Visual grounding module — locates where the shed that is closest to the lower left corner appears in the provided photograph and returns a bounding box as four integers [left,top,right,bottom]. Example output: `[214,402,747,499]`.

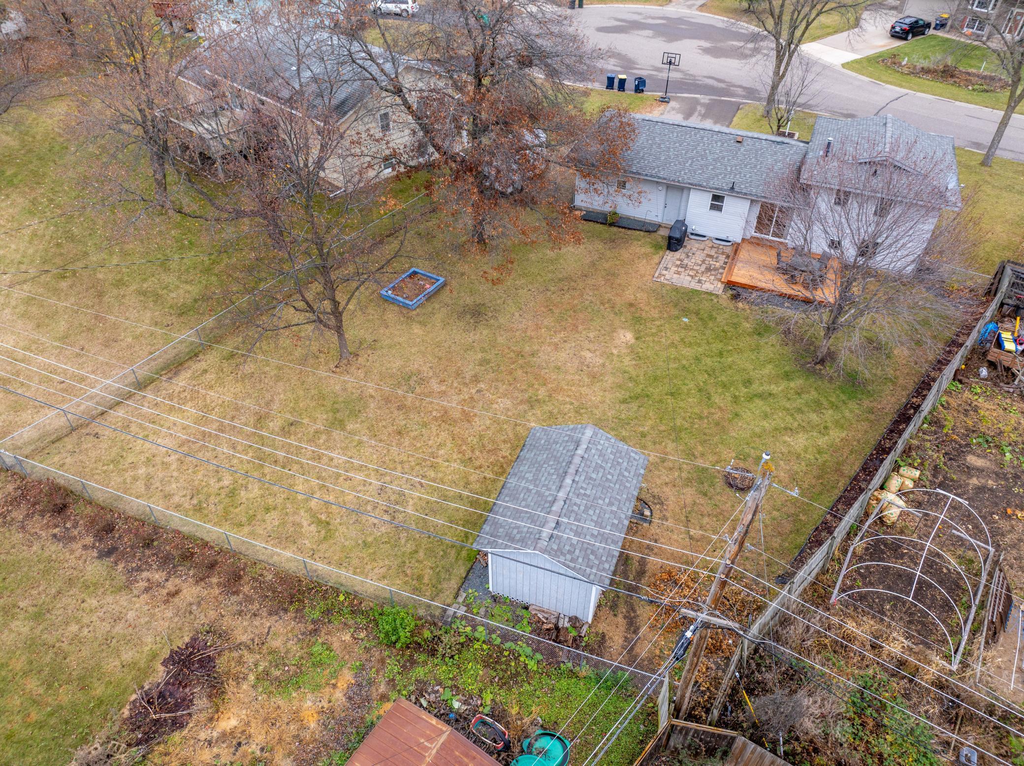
[347,696,498,766]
